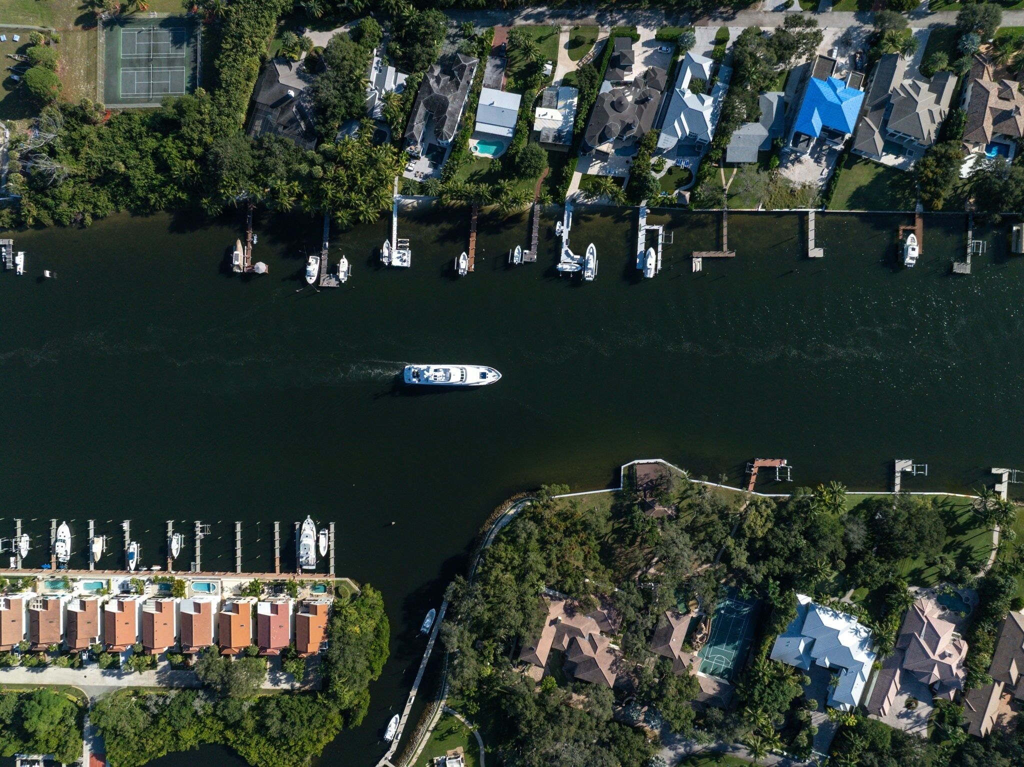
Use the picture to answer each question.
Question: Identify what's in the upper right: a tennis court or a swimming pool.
swimming pool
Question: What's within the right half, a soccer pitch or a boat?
boat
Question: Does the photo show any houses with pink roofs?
Yes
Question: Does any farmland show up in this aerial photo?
No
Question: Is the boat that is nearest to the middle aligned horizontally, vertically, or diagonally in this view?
horizontally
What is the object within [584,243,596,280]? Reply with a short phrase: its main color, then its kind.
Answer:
white boat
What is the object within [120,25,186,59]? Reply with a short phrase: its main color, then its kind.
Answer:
gray tennis court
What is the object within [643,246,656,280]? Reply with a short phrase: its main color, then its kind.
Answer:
white boat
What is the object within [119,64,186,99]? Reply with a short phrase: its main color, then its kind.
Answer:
gray tennis court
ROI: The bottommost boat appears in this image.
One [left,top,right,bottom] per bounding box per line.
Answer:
[385,714,399,743]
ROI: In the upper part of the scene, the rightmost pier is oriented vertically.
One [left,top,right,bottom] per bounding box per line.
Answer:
[951,212,975,274]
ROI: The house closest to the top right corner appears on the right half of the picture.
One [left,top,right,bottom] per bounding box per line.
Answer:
[954,54,1024,155]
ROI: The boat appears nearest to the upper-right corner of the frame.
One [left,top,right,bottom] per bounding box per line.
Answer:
[901,232,920,267]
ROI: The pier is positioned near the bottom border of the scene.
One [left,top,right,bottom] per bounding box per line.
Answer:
[372,581,447,767]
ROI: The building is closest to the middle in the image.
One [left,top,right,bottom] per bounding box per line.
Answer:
[643,498,677,519]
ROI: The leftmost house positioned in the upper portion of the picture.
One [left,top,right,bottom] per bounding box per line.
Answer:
[257,60,317,137]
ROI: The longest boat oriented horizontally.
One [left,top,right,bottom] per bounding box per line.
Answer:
[404,365,502,385]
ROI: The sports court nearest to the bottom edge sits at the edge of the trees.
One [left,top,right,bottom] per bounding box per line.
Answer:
[698,591,758,685]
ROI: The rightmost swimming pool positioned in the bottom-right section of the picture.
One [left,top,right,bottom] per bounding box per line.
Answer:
[936,590,972,615]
